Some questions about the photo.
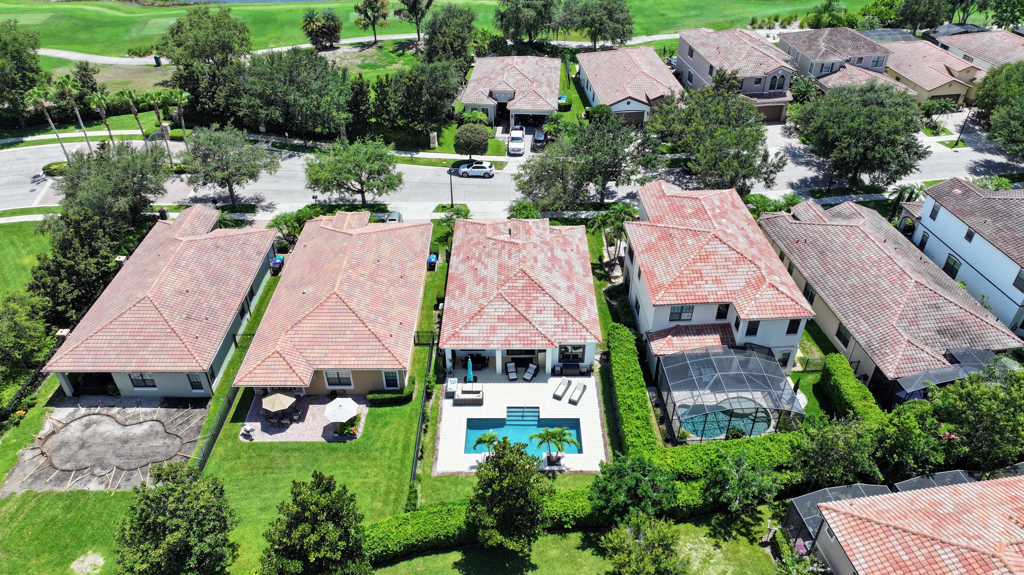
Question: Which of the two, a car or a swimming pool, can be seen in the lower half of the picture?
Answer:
swimming pool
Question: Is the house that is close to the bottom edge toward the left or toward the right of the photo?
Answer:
right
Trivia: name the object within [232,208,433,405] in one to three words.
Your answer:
house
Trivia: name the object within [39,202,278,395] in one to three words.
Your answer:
house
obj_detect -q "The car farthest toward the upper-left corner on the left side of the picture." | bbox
[384,207,402,222]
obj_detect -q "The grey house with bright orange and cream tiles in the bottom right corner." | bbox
[814,474,1024,575]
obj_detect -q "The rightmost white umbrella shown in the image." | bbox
[320,394,363,426]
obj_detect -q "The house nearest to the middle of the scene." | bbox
[438,217,603,371]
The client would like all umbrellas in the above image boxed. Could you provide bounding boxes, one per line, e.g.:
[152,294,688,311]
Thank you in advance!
[320,394,363,426]
[464,359,476,385]
[257,388,300,413]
